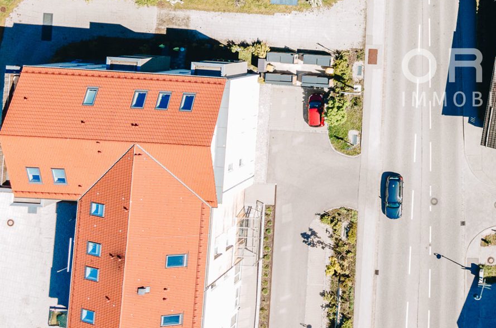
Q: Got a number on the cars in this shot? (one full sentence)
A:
The picture shows 2 cars.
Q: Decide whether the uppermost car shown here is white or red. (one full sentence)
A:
The uppermost car is red.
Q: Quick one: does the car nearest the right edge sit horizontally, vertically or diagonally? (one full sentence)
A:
The car nearest the right edge has been laid out vertically relative to the frame.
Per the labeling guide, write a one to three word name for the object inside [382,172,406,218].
car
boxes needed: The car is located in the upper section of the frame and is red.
[305,93,326,127]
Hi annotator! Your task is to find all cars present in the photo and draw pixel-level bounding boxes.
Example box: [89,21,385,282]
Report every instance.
[305,93,326,127]
[382,172,406,218]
